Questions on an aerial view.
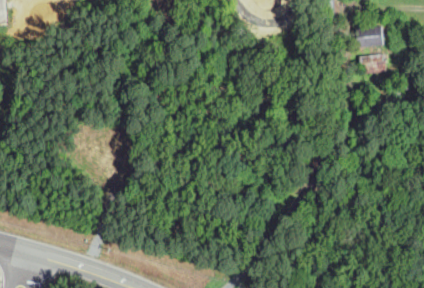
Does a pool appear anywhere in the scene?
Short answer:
No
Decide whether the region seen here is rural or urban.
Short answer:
rural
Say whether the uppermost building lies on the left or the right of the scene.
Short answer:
right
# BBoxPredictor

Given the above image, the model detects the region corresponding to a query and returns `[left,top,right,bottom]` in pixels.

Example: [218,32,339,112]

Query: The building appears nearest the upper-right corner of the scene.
[358,26,384,48]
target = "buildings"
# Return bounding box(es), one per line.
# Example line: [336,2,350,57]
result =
[358,26,384,48]
[360,54,387,73]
